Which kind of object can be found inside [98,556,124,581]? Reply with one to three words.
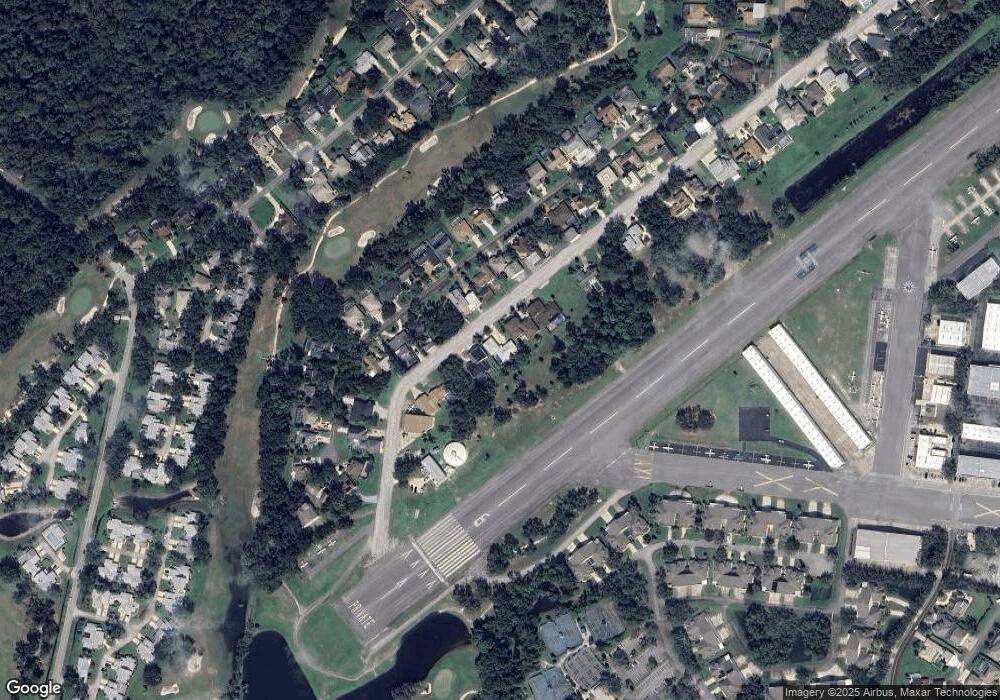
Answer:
house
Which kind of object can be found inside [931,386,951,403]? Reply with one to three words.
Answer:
building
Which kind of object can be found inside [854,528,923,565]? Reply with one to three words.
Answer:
hangar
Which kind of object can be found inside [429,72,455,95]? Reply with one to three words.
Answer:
house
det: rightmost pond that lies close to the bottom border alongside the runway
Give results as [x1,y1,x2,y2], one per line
[336,610,472,700]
